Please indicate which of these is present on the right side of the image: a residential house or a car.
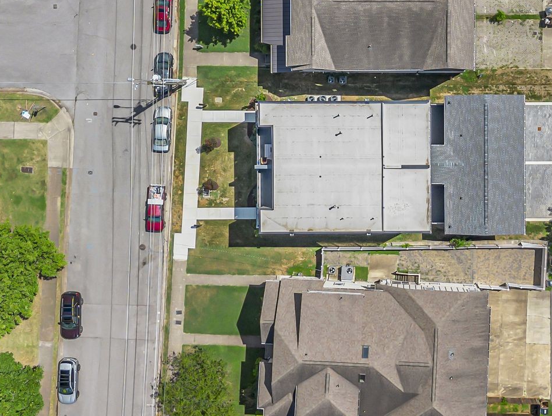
residential house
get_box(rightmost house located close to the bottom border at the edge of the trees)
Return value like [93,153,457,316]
[256,273,493,416]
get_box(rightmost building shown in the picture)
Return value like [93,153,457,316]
[431,95,526,235]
